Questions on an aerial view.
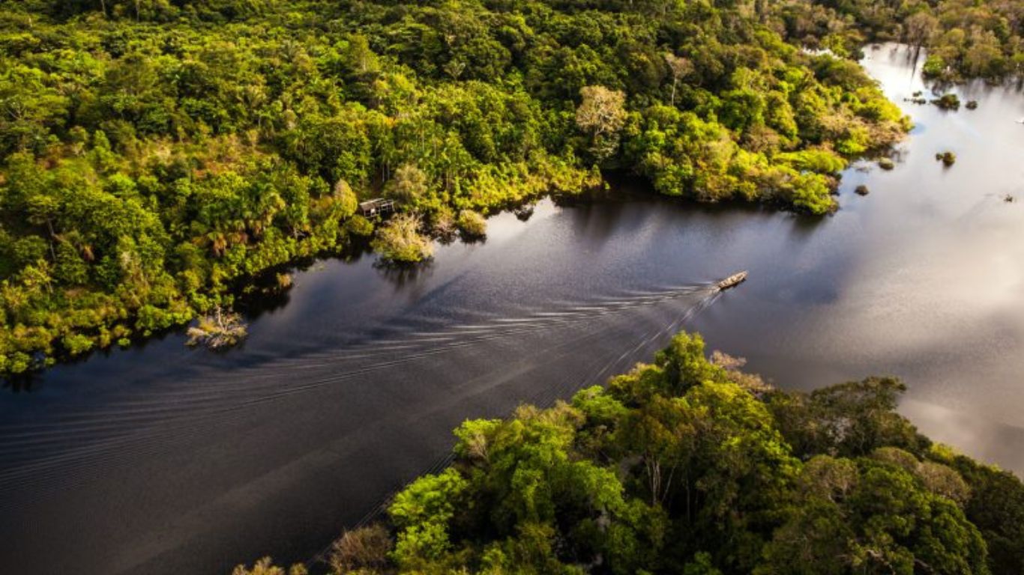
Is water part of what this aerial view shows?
Yes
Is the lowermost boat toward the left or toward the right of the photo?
right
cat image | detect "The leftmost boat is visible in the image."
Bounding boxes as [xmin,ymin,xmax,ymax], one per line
[715,270,748,292]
